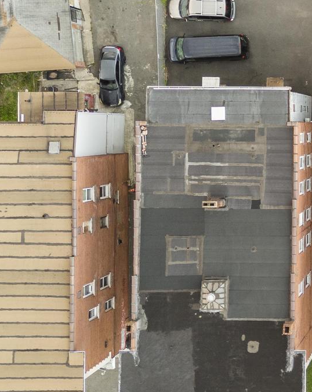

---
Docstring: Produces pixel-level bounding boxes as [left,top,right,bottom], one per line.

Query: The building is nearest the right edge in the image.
[118,87,312,392]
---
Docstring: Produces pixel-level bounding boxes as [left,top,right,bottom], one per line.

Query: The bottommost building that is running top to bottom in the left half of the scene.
[0,111,130,392]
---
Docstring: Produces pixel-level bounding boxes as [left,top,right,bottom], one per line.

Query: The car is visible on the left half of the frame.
[96,45,129,107]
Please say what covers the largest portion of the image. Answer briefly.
buildings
